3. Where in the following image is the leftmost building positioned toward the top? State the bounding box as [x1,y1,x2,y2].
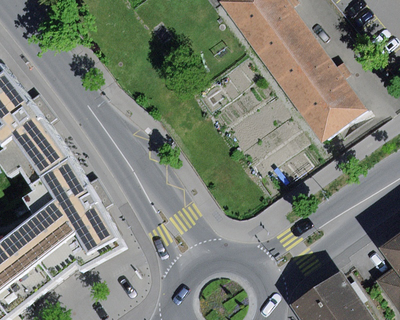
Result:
[0,62,83,184]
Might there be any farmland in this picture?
No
